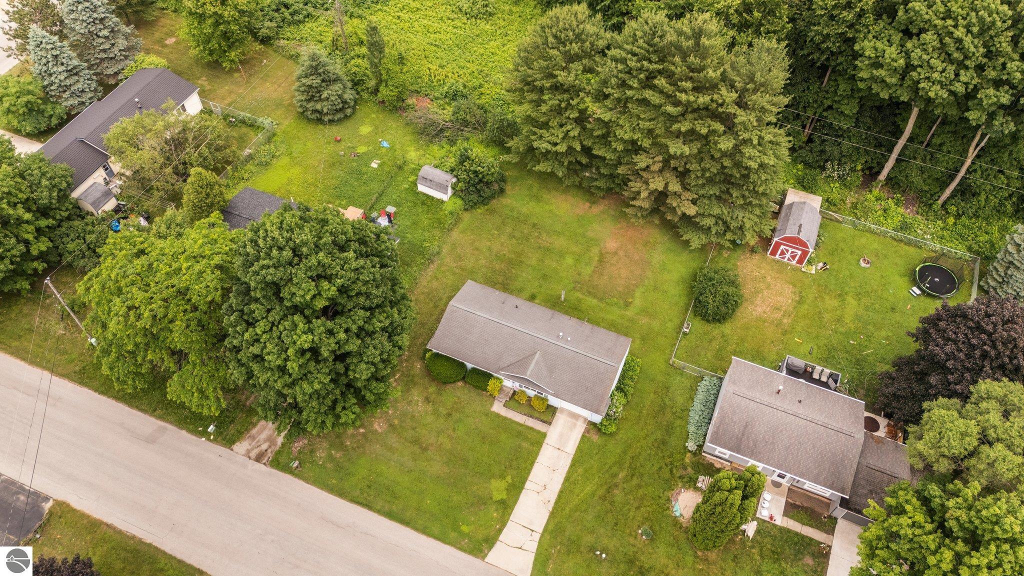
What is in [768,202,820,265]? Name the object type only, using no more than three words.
shed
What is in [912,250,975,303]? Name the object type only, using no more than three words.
trampoline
